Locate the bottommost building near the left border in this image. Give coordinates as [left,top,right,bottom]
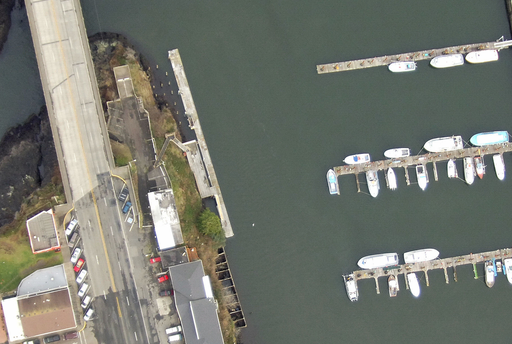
[2,288,77,344]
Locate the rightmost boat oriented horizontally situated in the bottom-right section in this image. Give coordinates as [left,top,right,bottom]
[403,249,440,263]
